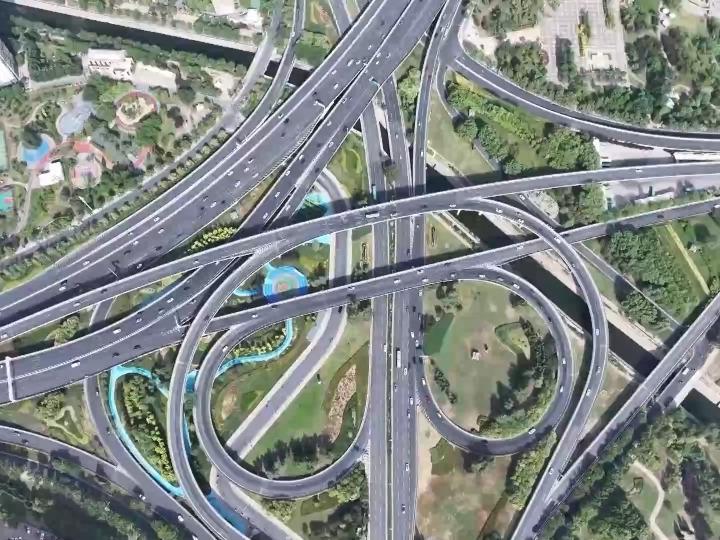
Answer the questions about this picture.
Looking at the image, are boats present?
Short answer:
No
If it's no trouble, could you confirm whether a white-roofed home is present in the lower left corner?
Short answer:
No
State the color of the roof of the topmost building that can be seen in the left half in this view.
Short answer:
white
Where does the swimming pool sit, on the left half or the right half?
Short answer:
left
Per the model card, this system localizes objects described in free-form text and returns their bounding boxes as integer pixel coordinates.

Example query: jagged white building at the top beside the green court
[231,7,263,33]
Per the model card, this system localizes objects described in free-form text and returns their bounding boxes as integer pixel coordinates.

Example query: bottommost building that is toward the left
[39,162,68,188]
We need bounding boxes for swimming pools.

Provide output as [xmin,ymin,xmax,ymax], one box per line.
[20,134,52,168]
